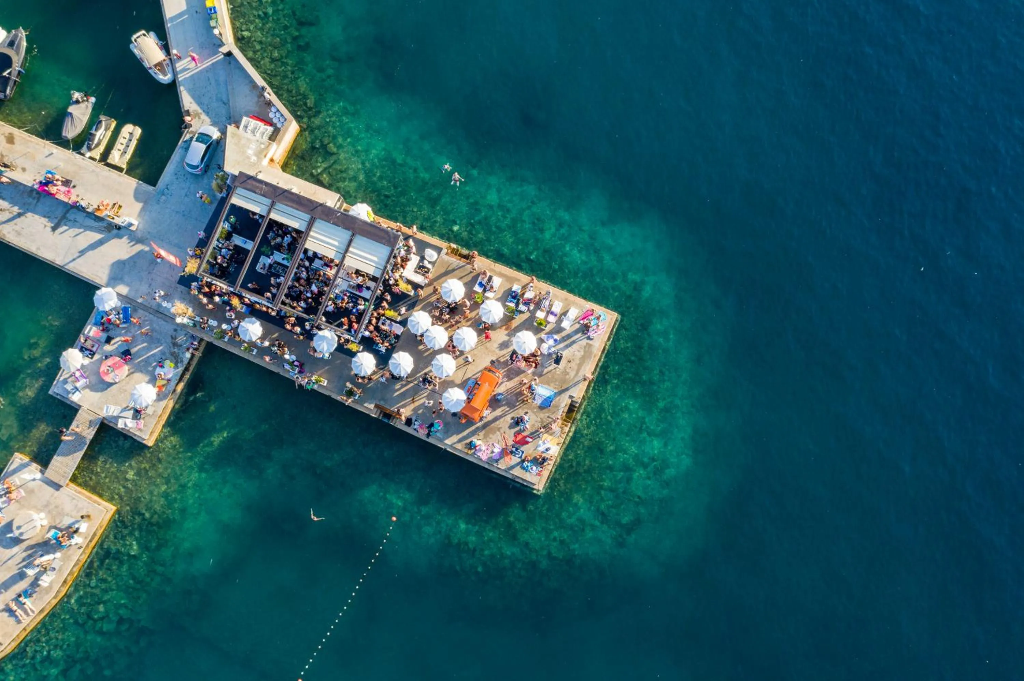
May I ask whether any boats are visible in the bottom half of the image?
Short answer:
No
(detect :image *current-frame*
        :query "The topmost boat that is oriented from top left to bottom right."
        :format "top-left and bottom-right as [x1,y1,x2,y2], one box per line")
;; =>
[130,24,174,84]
